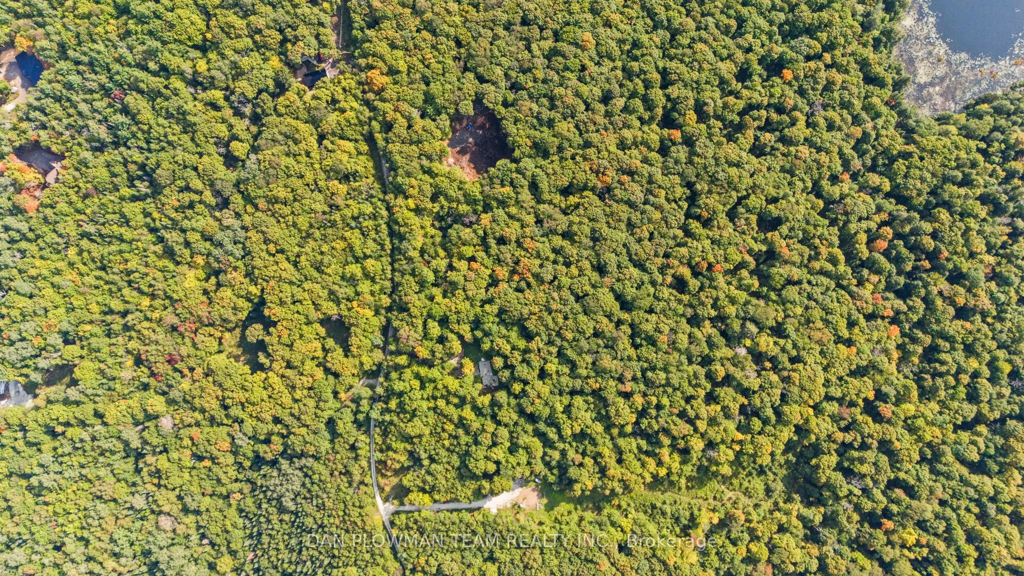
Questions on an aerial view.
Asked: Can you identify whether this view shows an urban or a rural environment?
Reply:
rural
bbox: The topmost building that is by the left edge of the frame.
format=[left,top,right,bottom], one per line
[8,49,44,85]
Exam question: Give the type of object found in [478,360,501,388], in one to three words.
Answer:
house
